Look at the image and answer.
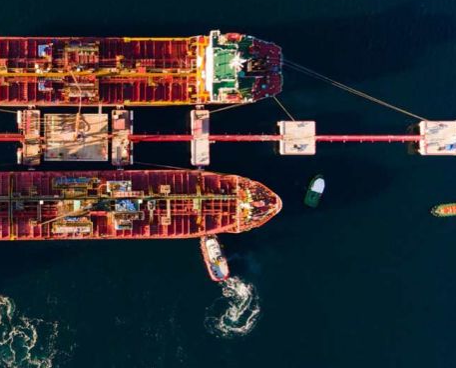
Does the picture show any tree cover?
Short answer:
No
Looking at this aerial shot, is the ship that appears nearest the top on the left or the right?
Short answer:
left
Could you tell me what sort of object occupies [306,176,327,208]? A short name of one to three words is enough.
boat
